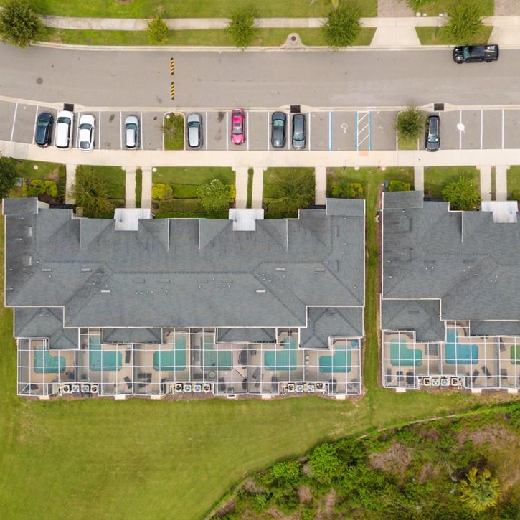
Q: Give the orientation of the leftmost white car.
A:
up and down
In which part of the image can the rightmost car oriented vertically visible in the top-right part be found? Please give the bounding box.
[426,113,444,151]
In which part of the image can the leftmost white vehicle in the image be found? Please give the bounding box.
[53,109,73,149]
